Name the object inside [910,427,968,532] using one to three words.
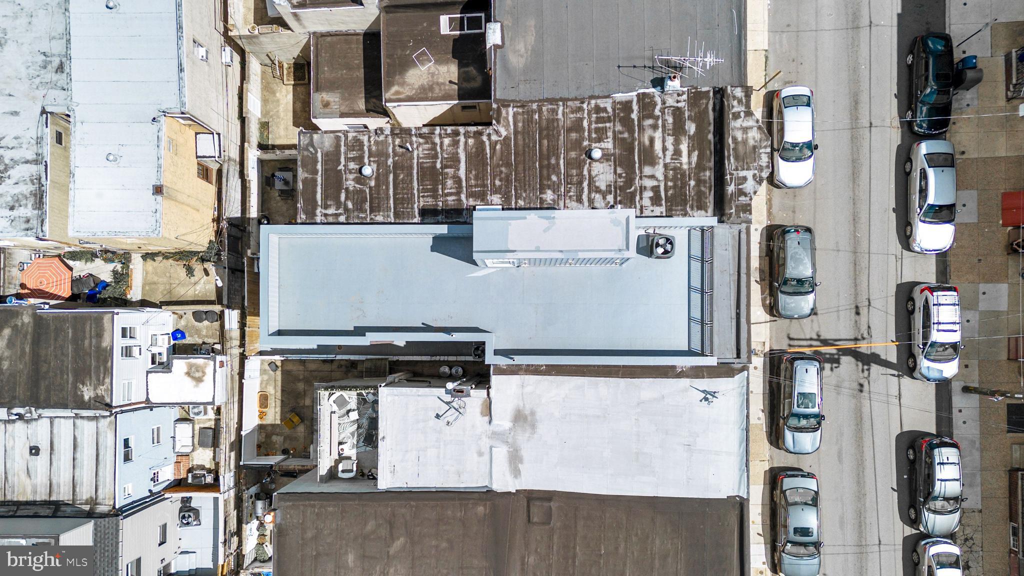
car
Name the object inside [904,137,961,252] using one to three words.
car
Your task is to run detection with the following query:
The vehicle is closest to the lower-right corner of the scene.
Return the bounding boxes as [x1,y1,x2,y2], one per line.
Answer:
[913,530,964,576]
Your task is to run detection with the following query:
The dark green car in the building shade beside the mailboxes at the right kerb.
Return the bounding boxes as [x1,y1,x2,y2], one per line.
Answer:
[903,29,958,136]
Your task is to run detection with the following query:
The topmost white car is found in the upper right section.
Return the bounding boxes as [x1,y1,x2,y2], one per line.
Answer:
[770,83,820,189]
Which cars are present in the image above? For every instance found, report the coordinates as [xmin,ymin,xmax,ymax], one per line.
[770,83,820,189]
[772,465,826,576]
[775,346,828,454]
[903,29,958,136]
[771,220,821,319]
[904,137,961,252]
[913,530,964,576]
[908,278,966,382]
[910,427,968,532]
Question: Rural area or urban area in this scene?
urban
